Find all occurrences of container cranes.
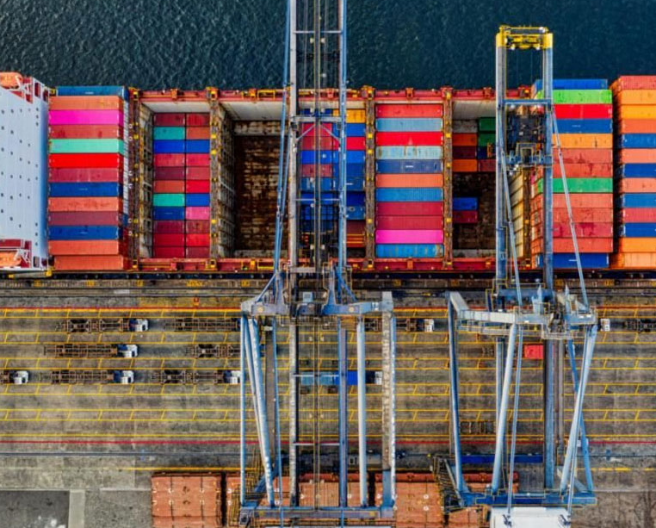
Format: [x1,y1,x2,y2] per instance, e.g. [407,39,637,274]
[221,0,414,528]
[426,24,607,528]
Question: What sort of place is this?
port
